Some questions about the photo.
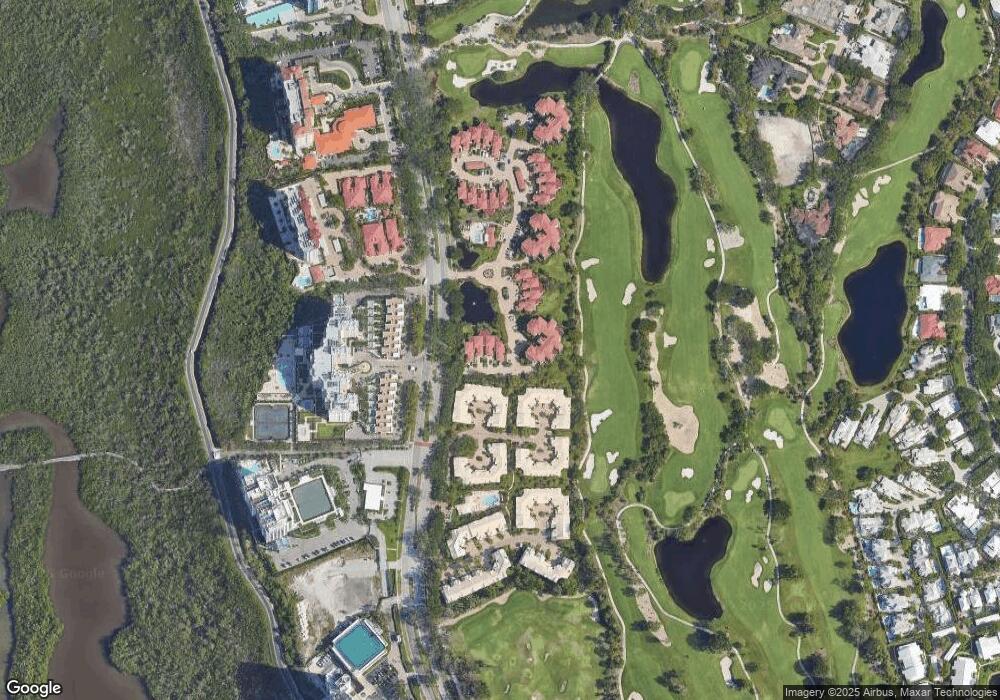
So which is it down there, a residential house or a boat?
residential house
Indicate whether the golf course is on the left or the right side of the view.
right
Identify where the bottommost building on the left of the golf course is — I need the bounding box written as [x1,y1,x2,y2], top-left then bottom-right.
[323,670,352,700]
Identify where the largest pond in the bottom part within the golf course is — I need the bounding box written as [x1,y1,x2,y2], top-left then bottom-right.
[655,515,731,620]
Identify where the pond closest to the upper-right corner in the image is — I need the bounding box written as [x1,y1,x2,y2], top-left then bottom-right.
[901,0,947,84]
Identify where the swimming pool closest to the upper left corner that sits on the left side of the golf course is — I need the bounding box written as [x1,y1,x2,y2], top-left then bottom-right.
[236,0,302,34]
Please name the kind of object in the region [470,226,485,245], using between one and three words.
swimming pool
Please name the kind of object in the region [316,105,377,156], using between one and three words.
building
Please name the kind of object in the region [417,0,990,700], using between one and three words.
golf course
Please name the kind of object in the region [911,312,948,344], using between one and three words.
house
